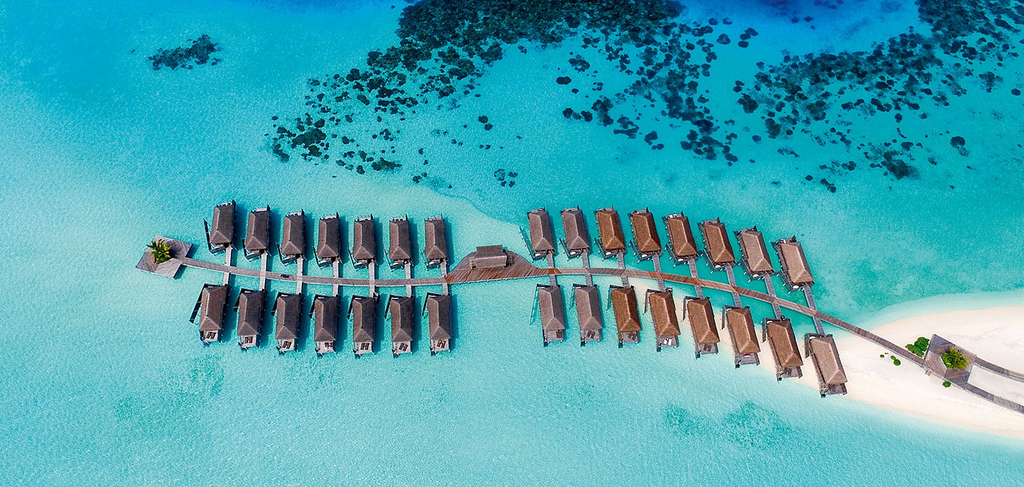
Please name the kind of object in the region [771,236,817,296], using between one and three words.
house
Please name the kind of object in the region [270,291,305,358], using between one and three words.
house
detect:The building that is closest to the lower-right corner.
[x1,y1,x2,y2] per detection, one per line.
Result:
[803,332,848,401]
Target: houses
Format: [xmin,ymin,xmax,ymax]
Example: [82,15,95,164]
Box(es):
[661,210,701,269]
[604,284,641,350]
[685,299,725,365]
[345,294,379,361]
[517,205,557,262]
[627,207,664,264]
[733,225,776,284]
[771,236,817,296]
[760,317,804,385]
[275,209,308,266]
[270,291,305,358]
[311,212,344,269]
[567,283,603,348]
[695,216,738,277]
[557,204,593,261]
[240,205,273,261]
[346,215,378,272]
[232,288,268,354]
[420,292,453,358]
[202,199,238,255]
[417,214,450,270]
[803,332,848,401]
[307,293,342,360]
[531,283,566,348]
[720,304,761,371]
[189,284,231,350]
[592,204,628,261]
[382,215,414,271]
[644,291,682,358]
[383,294,416,361]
